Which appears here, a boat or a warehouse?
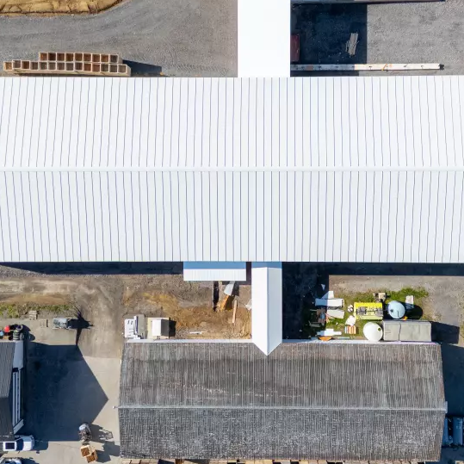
warehouse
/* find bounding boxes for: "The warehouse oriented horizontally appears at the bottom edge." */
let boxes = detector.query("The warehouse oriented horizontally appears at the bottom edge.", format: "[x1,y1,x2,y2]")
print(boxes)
[119,339,448,461]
